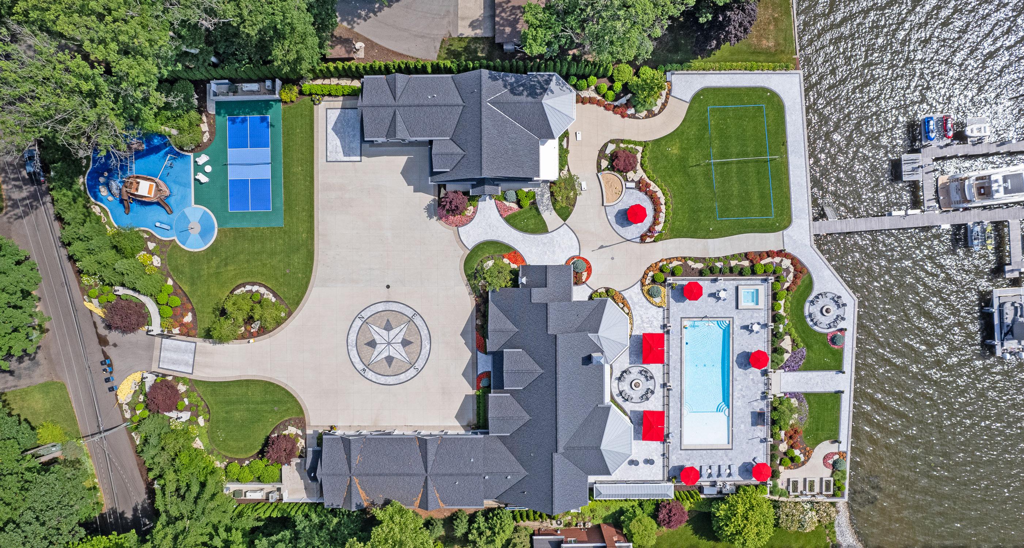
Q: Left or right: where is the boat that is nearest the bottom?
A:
right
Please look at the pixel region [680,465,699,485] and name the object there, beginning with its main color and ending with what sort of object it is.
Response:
red umbrella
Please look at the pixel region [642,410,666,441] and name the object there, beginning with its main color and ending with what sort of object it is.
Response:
red umbrella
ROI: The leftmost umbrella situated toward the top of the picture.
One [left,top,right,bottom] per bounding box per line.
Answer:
[627,204,646,223]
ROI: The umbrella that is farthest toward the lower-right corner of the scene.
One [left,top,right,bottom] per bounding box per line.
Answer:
[752,462,770,480]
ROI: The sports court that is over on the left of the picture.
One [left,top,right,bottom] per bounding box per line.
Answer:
[194,99,284,228]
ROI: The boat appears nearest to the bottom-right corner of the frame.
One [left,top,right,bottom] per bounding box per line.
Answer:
[1002,301,1024,355]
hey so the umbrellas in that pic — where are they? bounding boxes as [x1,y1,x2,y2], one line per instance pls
[642,410,666,441]
[683,282,702,300]
[627,204,646,223]
[752,462,770,480]
[642,333,666,364]
[748,349,769,370]
[680,465,699,485]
